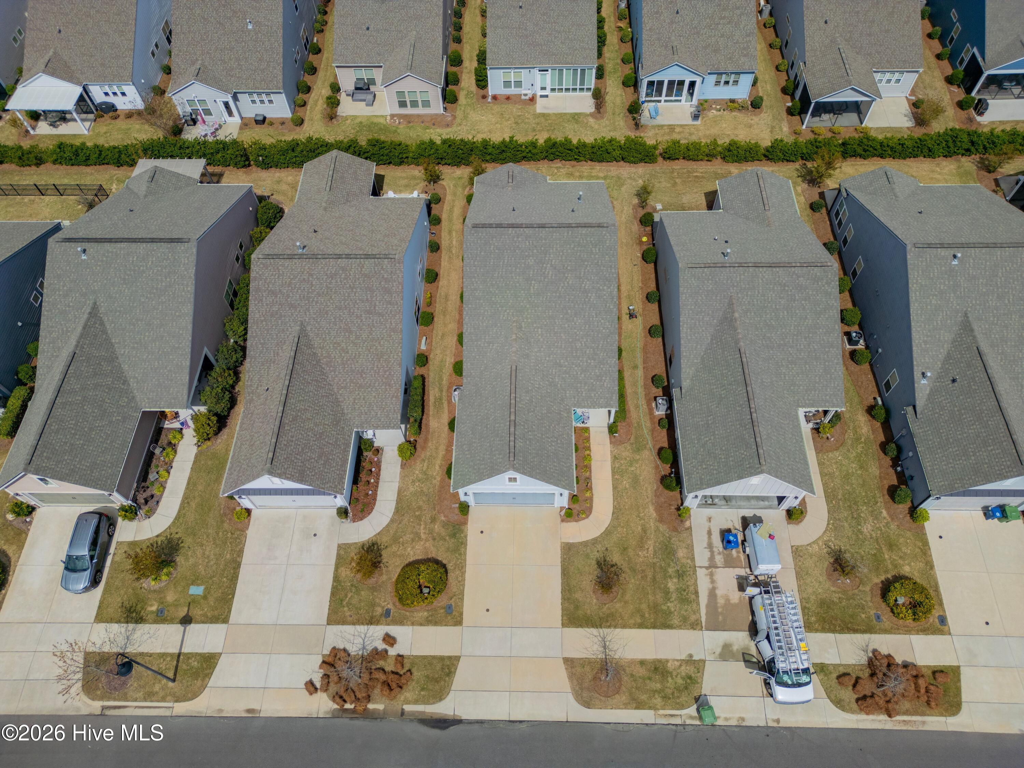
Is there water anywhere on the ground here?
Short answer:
No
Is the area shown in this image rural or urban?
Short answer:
urban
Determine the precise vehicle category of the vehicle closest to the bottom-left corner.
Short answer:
automobile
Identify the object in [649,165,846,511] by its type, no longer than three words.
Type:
house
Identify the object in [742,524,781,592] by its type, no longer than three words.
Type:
trailer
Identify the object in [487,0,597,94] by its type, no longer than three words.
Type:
house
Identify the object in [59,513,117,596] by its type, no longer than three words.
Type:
car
